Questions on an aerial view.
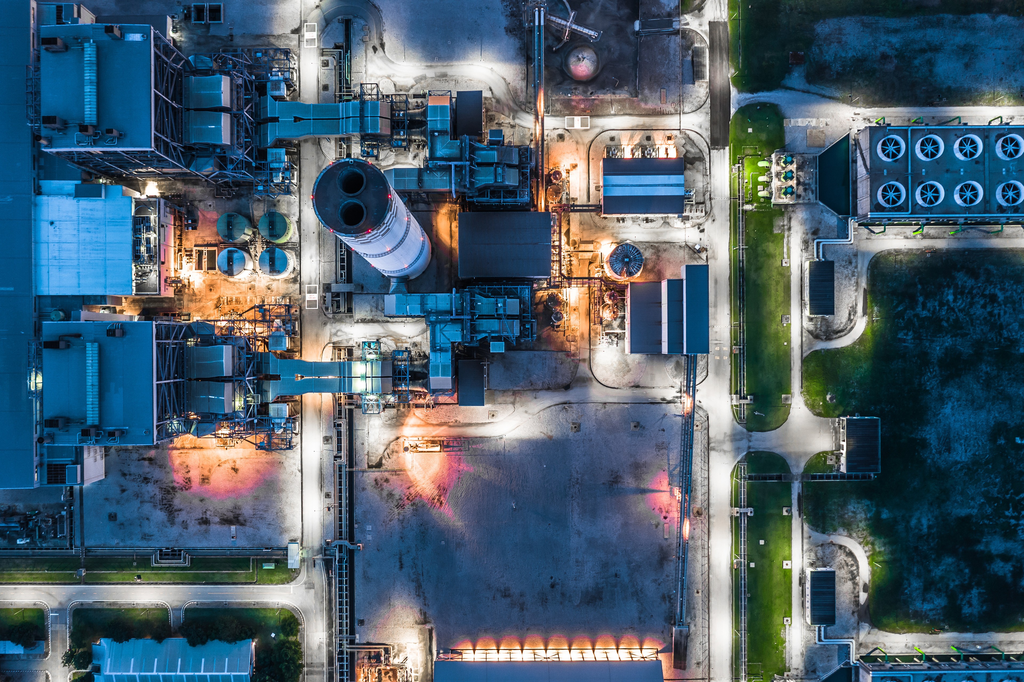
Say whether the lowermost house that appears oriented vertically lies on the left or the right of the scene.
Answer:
right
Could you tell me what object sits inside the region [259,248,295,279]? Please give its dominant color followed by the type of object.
blue storage tank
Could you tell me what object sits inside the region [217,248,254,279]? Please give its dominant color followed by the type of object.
blue storage tank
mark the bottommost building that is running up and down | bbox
[668,621,690,670]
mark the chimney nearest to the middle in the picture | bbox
[310,158,431,274]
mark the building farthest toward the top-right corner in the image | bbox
[769,152,819,204]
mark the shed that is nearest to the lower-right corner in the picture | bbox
[805,567,836,625]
